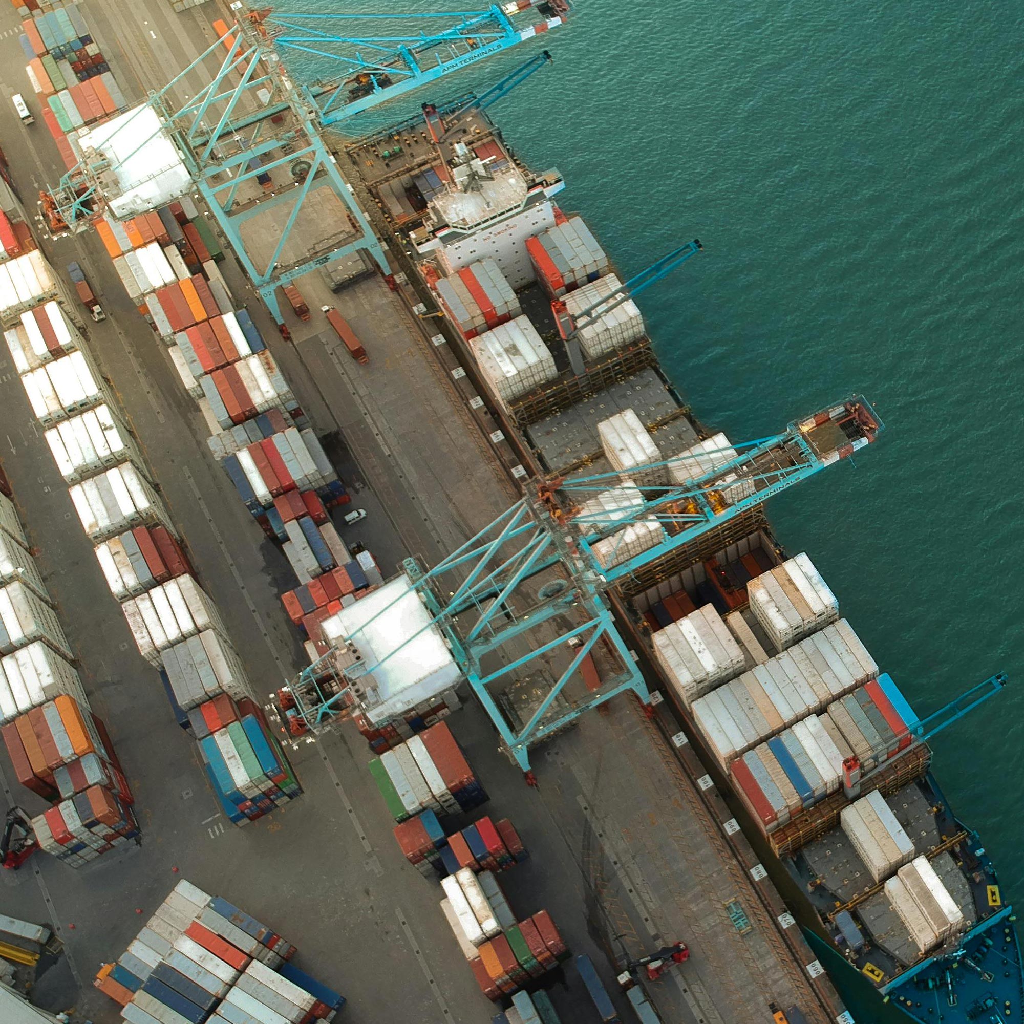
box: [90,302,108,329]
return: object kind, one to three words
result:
vehicle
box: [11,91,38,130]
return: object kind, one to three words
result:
truck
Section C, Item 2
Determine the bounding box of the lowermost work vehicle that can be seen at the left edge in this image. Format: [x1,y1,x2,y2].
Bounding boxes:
[0,790,42,881]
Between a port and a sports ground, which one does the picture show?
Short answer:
port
